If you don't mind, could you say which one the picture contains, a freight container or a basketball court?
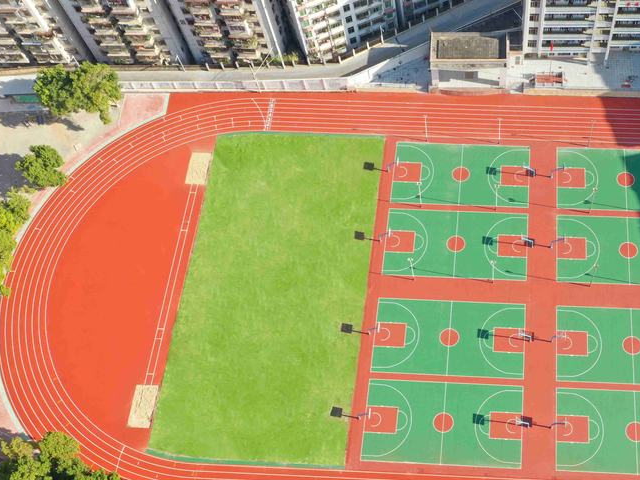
basketball court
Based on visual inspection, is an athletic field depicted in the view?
Yes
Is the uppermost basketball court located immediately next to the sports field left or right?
right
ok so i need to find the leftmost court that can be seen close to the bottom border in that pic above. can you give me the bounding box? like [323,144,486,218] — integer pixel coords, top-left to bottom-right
[361,379,524,469]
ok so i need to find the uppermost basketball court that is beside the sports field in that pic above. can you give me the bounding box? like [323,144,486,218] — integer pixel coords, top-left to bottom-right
[390,142,529,207]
